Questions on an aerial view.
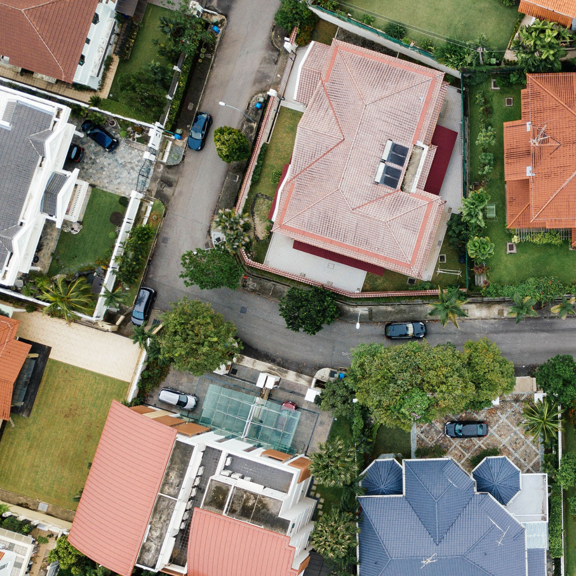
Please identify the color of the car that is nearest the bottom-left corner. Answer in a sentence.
In this view, the car that is nearest the bottom-left corner is white.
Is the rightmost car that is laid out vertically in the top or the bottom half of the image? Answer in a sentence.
The rightmost car that is laid out vertically sits in the bottom half of the picture.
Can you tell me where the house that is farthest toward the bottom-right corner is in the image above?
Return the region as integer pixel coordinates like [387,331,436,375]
[356,454,548,576]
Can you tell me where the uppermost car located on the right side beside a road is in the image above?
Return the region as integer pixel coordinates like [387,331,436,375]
[384,321,427,339]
